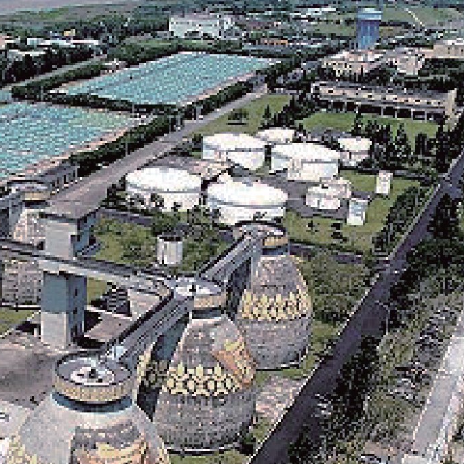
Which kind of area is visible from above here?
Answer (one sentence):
This looks like an industrial area.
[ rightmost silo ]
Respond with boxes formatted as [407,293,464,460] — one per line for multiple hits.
[373,167,395,195]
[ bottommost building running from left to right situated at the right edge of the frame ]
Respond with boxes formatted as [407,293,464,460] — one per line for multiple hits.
[299,80,451,120]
